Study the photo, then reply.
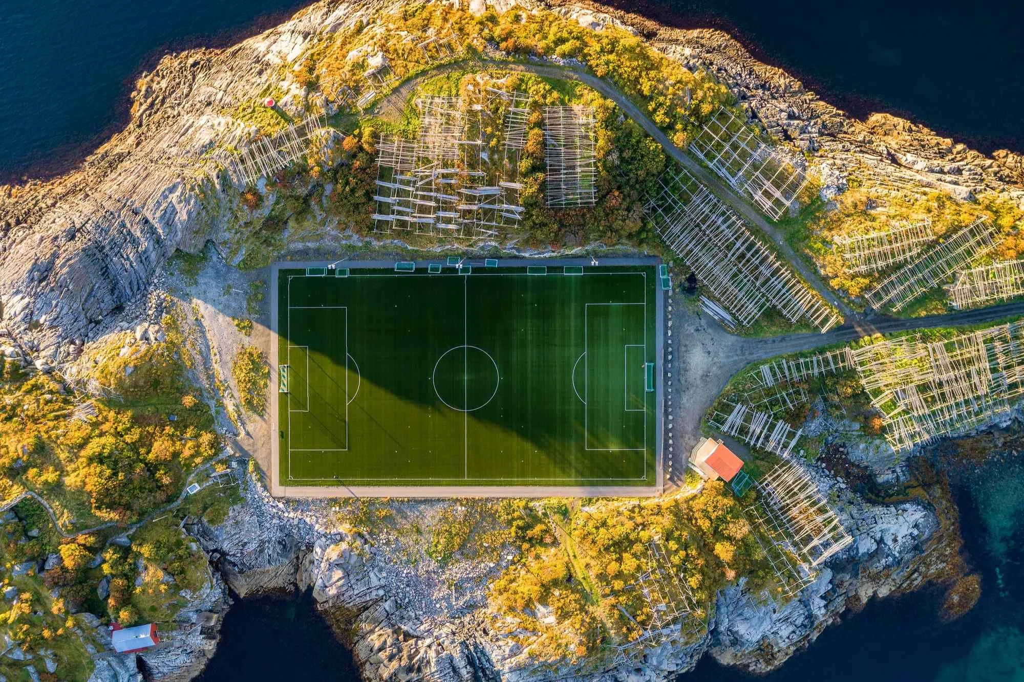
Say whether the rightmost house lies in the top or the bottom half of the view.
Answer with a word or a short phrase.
bottom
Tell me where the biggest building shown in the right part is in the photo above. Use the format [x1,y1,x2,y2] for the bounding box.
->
[707,447,748,486]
